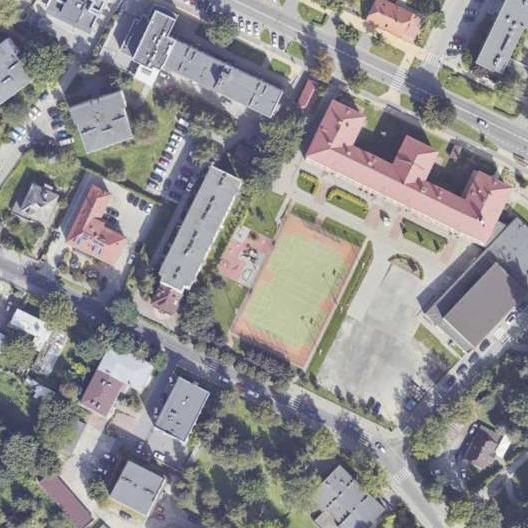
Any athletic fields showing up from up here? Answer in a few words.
Yes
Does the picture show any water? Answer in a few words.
No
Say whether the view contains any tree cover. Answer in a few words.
Yes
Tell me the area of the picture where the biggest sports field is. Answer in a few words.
center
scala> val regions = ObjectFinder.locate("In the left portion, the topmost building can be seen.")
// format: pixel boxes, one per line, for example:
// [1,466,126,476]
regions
[45,0,110,35]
